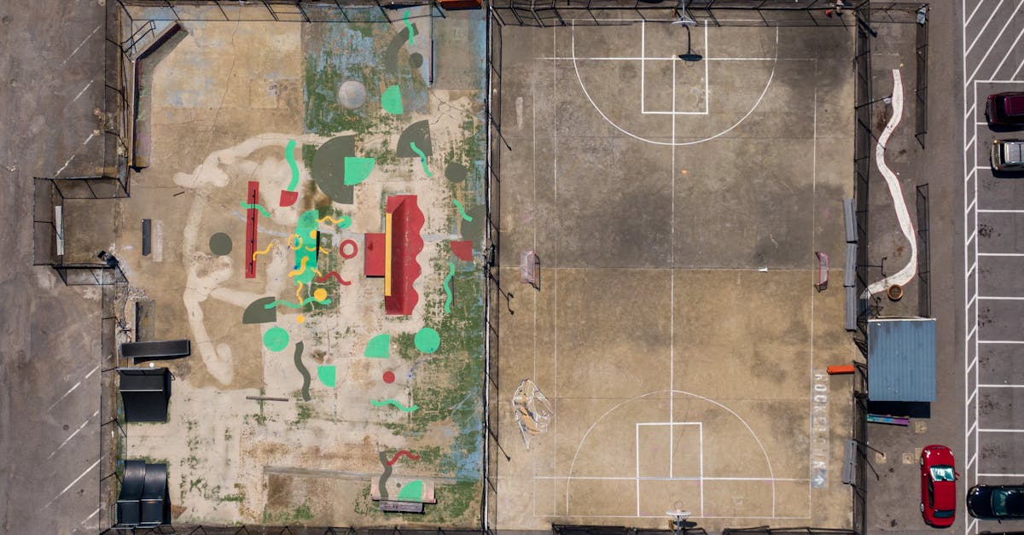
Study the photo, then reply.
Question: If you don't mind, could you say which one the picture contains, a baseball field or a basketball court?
basketball court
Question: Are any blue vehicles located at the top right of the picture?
No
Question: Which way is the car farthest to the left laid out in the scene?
up and down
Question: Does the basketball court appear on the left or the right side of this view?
right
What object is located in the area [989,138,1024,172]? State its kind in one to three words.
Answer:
car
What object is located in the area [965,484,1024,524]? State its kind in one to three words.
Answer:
car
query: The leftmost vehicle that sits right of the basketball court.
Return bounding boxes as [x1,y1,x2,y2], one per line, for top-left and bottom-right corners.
[920,443,963,528]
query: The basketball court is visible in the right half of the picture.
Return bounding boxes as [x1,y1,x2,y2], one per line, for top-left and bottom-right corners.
[488,9,855,529]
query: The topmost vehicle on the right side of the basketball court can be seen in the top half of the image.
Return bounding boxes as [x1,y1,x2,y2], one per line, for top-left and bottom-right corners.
[984,92,1024,128]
